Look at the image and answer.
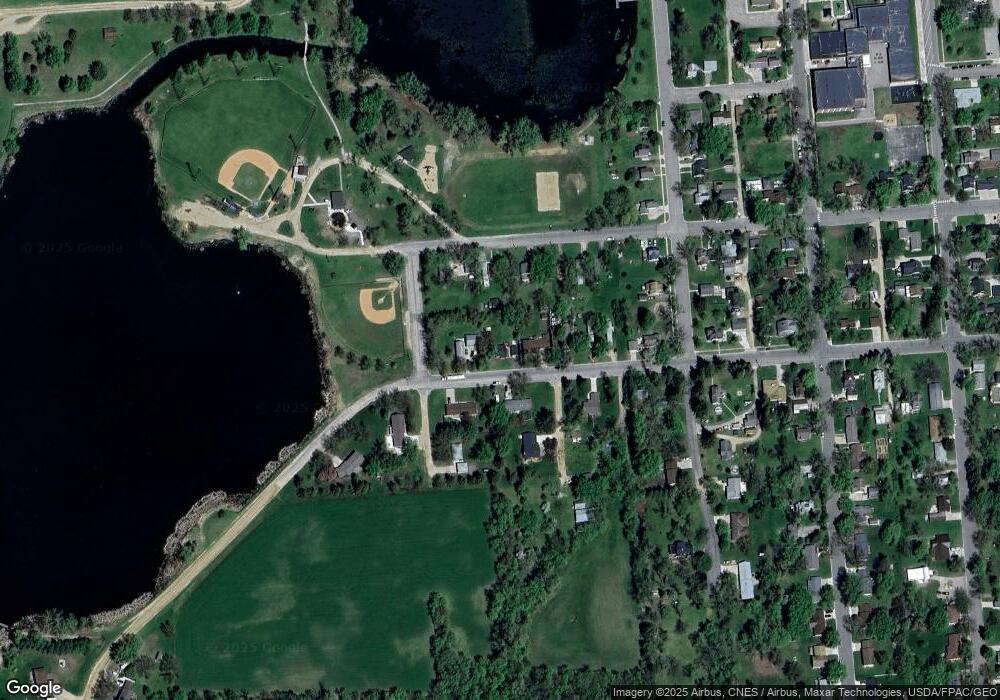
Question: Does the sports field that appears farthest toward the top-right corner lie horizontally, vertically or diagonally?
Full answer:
The sports field that appears farthest toward the top-right corner is laid out horizontally.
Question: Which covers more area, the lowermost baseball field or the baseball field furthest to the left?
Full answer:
The lowermost baseball field is smaller than the baseball field furthest to the left.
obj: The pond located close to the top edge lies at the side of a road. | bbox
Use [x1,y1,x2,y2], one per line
[356,0,639,139]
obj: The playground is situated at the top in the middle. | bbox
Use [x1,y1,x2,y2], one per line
[417,144,438,193]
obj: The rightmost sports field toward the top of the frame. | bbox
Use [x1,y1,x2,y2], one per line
[452,154,640,231]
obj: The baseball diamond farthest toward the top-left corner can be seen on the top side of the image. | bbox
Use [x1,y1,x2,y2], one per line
[161,77,317,217]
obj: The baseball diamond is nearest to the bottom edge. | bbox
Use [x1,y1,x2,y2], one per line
[321,277,404,359]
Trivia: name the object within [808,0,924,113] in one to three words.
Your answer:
building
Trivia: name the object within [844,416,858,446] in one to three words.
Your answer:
house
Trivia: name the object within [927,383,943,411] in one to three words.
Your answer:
house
